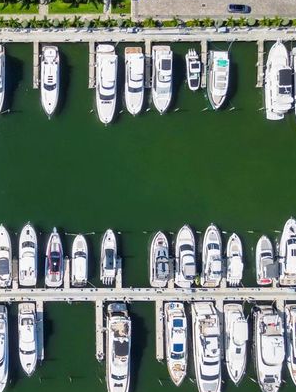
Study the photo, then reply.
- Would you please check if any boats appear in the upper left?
Yes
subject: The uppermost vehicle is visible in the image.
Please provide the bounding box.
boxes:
[226,3,250,15]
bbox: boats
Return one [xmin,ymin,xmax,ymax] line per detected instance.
[221,303,251,387]
[148,230,174,289]
[0,304,10,392]
[200,223,223,289]
[96,228,120,289]
[12,304,39,380]
[124,42,147,117]
[104,303,132,392]
[287,41,296,125]
[280,304,296,386]
[0,42,8,111]
[246,303,292,392]
[275,217,296,285]
[16,221,40,290]
[150,40,176,115]
[224,232,248,290]
[171,224,197,289]
[38,41,62,121]
[183,43,205,90]
[205,42,233,112]
[41,228,66,289]
[0,223,13,288]
[93,40,120,126]
[160,303,189,388]
[260,39,295,121]
[254,234,277,288]
[69,233,93,288]
[190,303,223,392]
